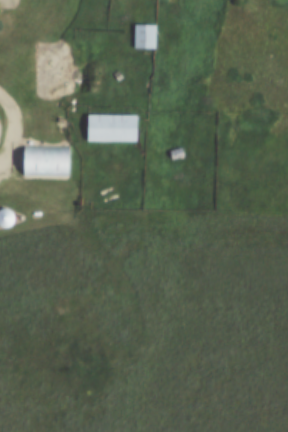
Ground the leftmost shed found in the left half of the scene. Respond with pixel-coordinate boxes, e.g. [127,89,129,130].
[24,146,70,176]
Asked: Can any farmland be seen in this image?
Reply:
Yes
